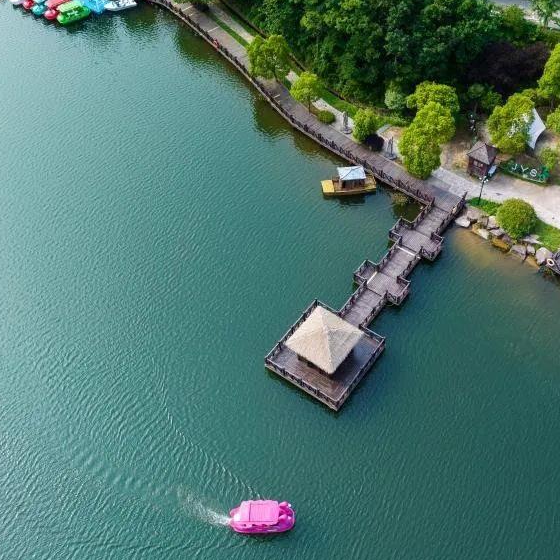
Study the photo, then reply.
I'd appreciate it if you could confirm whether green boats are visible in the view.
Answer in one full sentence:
Yes, the picture does show a green boat.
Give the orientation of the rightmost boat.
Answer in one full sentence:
From this overhead view, the rightmost boat appears to run from side to side.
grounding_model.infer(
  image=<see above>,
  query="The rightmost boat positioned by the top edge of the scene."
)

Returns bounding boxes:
[100,0,139,14]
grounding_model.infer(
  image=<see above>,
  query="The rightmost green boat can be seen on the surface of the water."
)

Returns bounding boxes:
[58,0,90,25]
